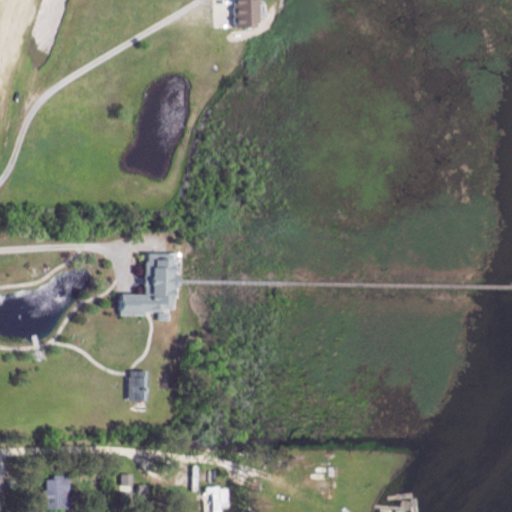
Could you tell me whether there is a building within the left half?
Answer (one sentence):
Yes, a building appears within the left half.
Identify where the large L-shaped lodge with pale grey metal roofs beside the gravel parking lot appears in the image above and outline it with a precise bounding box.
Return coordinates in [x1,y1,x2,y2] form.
[117,252,183,322]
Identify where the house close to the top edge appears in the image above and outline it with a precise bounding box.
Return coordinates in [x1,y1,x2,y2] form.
[235,0,267,29]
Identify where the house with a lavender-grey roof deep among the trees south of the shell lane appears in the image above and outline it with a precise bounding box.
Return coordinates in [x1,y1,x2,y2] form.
[46,476,70,510]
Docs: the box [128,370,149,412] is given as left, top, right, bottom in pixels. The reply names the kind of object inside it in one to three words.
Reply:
house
